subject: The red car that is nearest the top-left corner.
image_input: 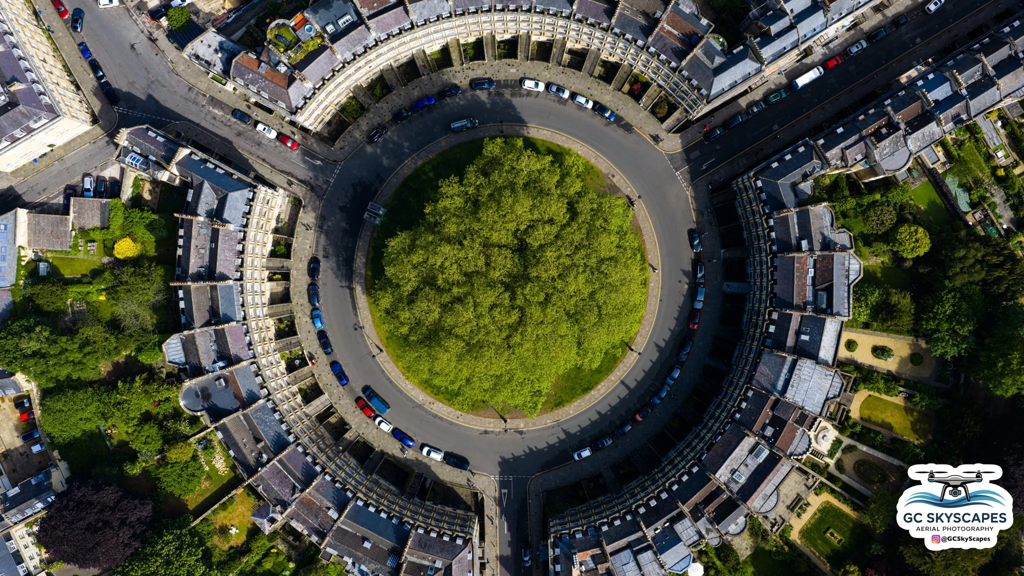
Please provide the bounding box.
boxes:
[51,0,71,20]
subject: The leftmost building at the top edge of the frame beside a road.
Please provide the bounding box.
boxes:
[0,0,101,183]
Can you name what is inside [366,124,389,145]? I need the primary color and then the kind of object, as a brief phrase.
black car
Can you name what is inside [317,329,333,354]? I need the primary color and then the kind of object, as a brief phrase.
black car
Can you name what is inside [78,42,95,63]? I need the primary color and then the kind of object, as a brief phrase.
blue car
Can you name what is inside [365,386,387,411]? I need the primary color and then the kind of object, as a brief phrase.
blue vehicle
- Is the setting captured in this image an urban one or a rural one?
urban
